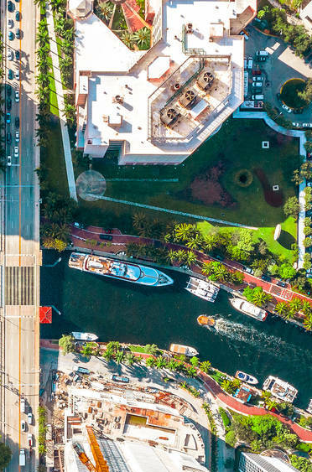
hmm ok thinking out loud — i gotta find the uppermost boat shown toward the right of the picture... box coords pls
[183,275,221,301]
